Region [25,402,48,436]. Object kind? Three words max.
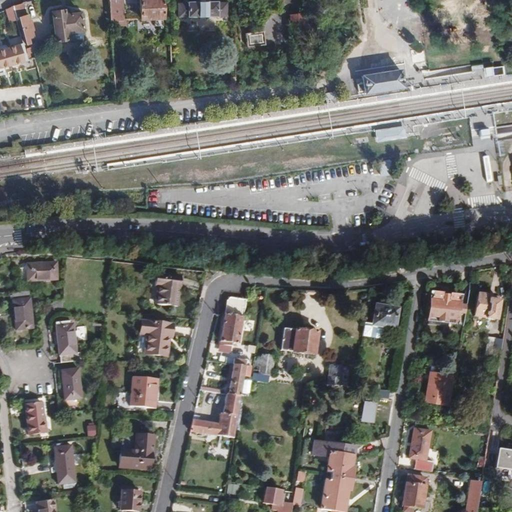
house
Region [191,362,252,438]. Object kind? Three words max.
house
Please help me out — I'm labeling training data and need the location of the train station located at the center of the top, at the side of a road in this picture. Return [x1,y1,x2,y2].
[24,68,512,170]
